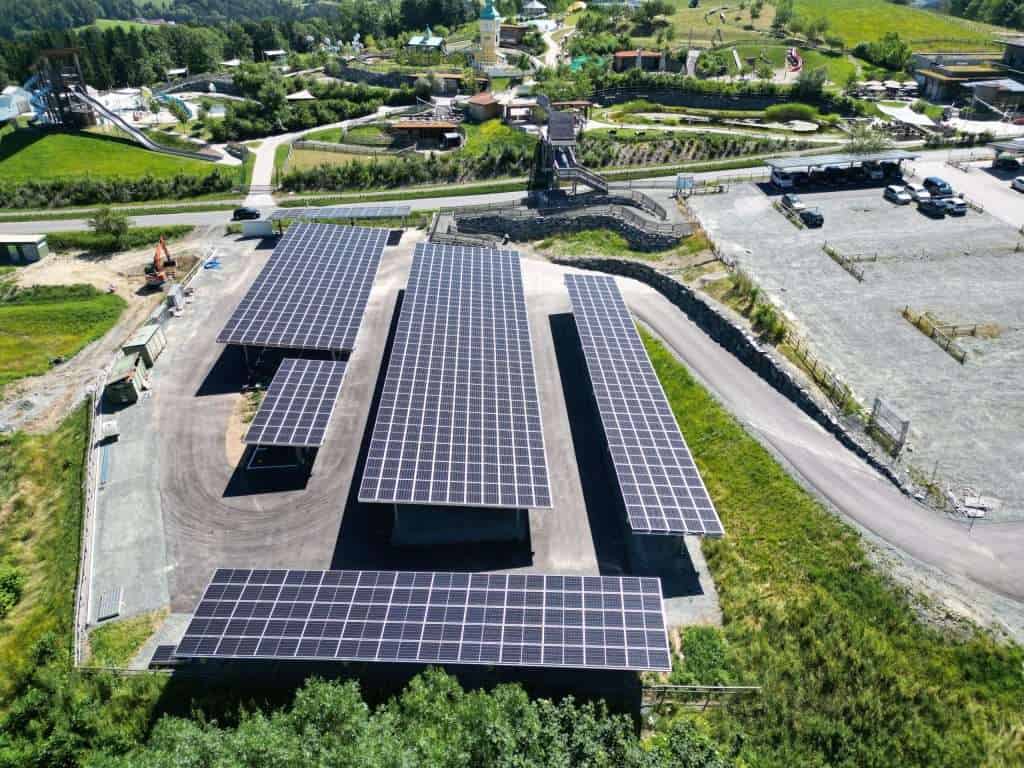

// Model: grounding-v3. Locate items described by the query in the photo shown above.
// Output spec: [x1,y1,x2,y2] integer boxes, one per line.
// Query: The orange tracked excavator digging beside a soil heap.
[137,238,179,286]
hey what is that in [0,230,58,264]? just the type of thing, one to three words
building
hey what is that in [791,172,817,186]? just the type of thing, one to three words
car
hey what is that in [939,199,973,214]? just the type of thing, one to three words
car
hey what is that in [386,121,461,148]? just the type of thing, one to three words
barn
